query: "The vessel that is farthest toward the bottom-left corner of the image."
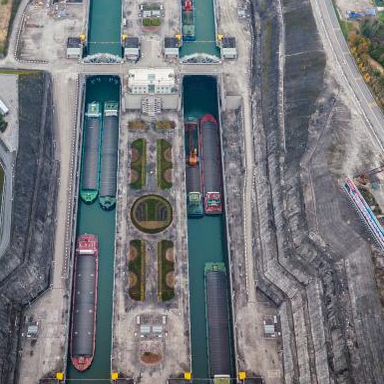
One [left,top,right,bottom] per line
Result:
[69,233,97,369]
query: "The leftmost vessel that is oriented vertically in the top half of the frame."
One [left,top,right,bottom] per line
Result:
[81,99,100,204]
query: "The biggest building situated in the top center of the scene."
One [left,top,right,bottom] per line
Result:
[129,64,174,93]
